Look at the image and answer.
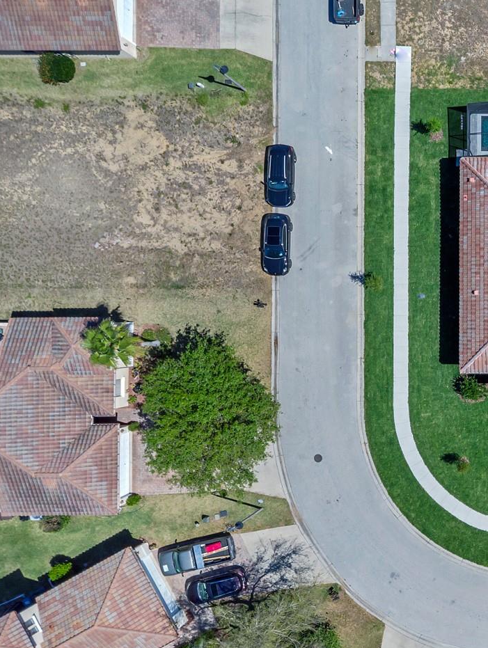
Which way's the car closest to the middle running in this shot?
from top to bottom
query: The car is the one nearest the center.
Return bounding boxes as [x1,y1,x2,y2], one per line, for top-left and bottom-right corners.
[260,213,294,277]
